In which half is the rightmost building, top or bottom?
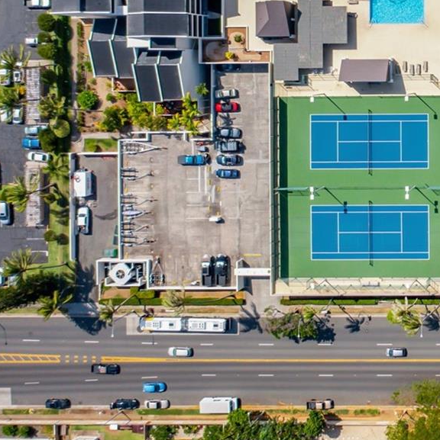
top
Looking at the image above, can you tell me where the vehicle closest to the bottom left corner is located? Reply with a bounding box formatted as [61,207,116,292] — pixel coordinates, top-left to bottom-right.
[45,398,72,411]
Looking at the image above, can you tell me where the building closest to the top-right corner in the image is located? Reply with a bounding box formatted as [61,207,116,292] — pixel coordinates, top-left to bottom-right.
[339,60,391,82]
